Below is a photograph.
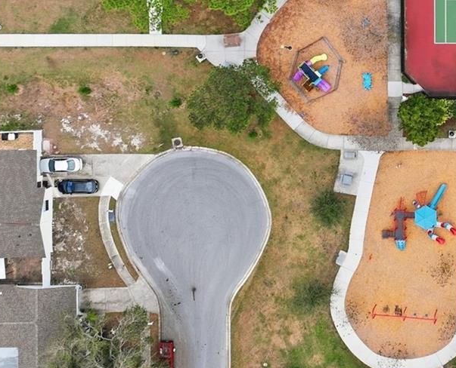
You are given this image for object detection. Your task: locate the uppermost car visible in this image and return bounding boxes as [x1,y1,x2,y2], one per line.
[41,157,85,175]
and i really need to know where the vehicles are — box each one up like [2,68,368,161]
[156,339,177,368]
[58,178,102,196]
[41,157,85,175]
